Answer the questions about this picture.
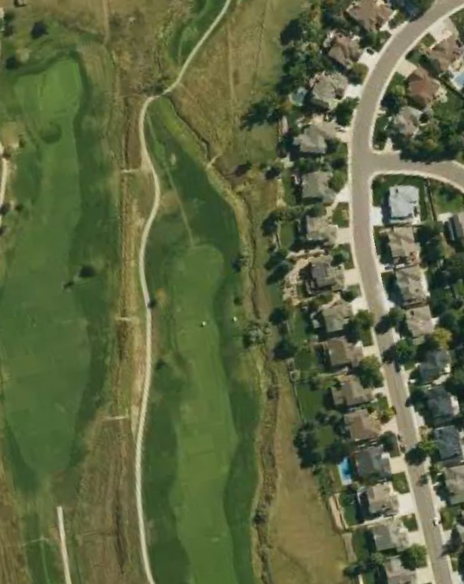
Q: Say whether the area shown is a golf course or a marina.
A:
golf course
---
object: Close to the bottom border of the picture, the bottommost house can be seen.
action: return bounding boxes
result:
[382,558,420,584]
